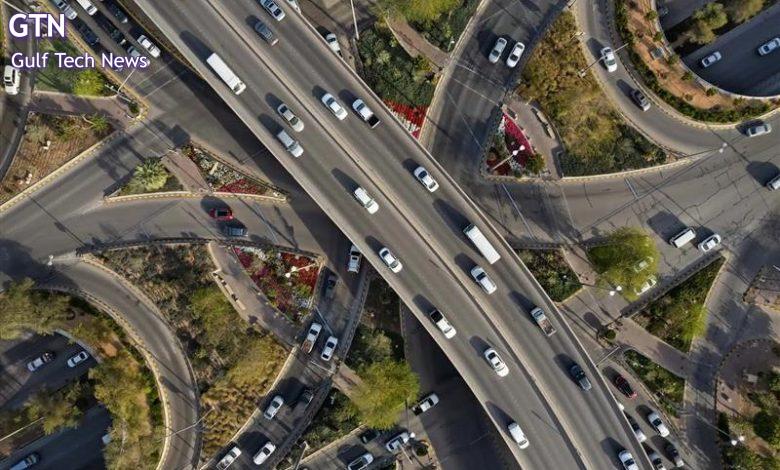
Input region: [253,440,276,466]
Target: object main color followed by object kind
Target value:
white car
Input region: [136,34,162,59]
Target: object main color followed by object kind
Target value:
white car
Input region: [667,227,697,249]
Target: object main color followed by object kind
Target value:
white vehicle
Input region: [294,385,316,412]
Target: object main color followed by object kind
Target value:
black car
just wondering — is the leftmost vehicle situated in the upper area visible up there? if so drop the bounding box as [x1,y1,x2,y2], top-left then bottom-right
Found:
[2,66,22,94]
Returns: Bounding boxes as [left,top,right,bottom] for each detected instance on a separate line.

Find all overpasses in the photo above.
[133,0,654,470]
